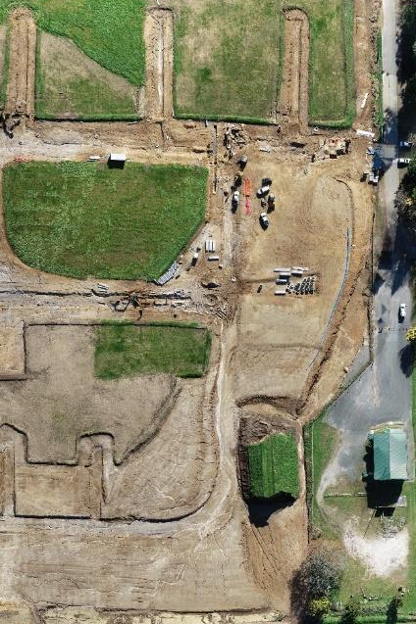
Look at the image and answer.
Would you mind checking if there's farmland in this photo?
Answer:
Yes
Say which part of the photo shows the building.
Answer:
bottom right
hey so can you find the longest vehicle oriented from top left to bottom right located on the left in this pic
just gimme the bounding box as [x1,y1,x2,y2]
[127,289,144,309]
